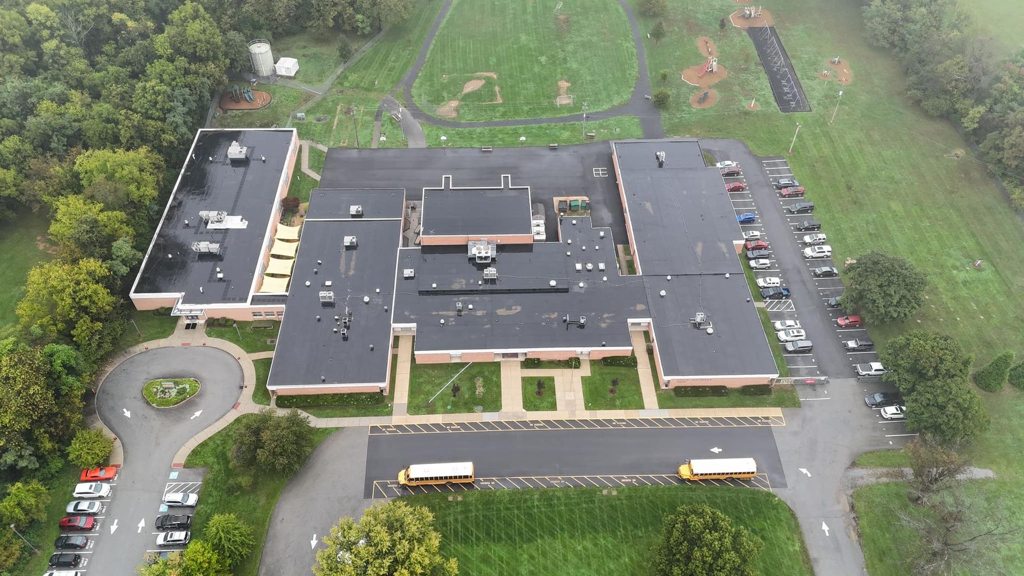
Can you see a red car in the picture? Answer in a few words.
Yes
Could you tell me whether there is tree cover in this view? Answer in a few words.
Yes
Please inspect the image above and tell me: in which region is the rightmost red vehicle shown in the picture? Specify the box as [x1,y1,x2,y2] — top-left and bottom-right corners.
[835,314,864,328]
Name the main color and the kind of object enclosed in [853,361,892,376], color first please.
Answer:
white vehicle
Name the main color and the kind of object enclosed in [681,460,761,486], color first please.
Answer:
white bus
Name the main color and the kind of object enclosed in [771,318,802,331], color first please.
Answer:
white vehicle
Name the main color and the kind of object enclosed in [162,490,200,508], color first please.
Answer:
white car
